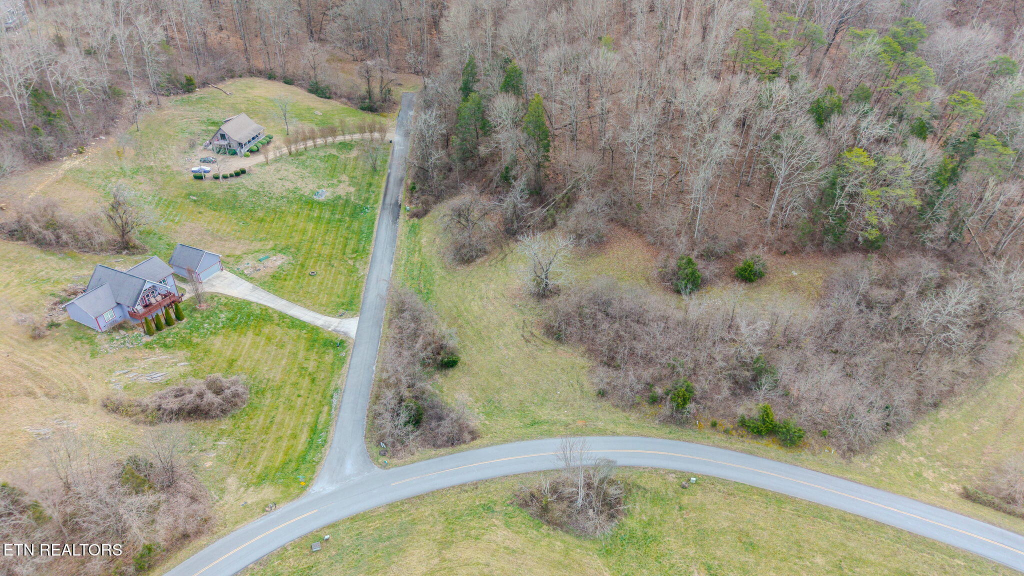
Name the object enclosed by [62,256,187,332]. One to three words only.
house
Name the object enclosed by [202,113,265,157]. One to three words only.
house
